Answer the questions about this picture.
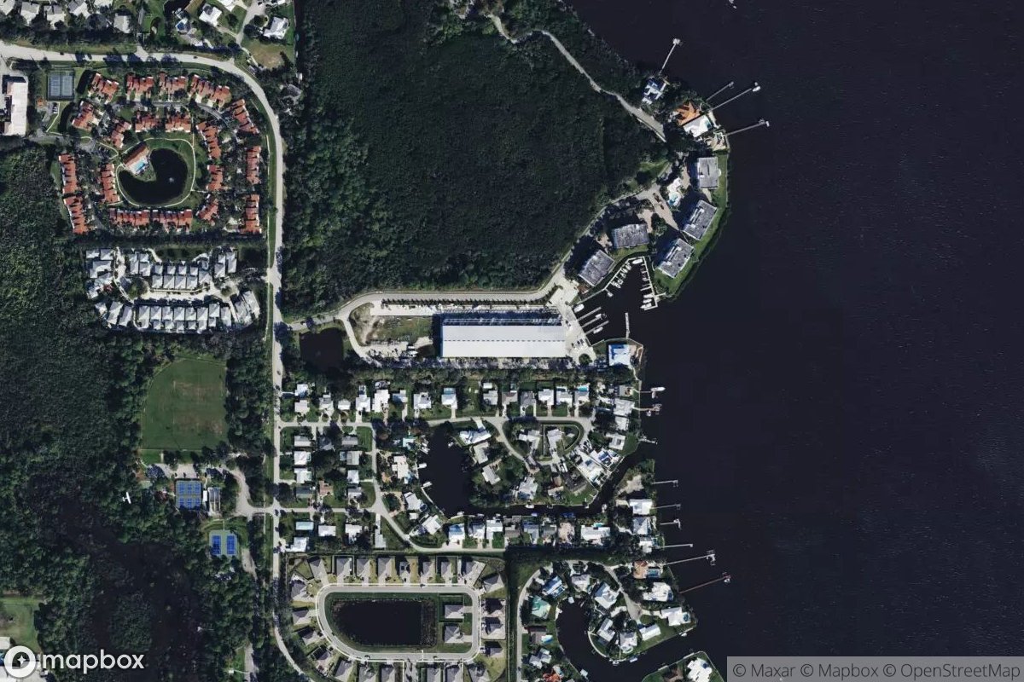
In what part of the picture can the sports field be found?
left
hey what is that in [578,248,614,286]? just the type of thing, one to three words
building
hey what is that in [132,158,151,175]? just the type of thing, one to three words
swimming pool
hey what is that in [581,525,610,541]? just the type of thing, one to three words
house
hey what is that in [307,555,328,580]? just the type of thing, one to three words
house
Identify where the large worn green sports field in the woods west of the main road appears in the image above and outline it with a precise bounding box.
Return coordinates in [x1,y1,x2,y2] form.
[142,359,228,450]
